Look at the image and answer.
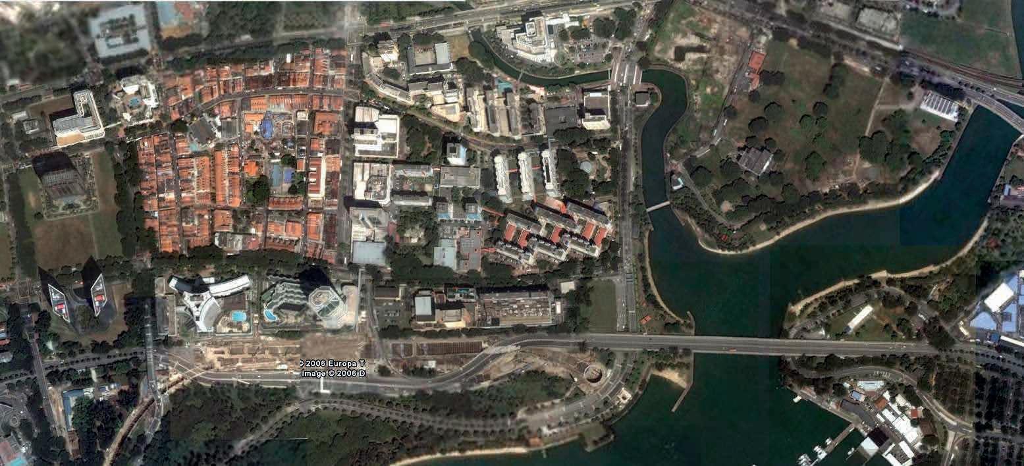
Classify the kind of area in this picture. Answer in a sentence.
This image shows a residential area.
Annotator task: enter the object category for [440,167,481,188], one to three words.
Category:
building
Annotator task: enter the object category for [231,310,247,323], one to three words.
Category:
swimming pool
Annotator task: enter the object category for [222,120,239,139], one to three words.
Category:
shed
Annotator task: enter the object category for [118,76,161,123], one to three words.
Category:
building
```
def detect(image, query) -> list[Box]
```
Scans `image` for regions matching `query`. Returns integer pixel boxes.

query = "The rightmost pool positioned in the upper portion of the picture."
[495,78,514,93]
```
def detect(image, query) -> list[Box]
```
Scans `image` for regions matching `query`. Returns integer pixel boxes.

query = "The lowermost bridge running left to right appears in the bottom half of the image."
[691,334,786,355]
